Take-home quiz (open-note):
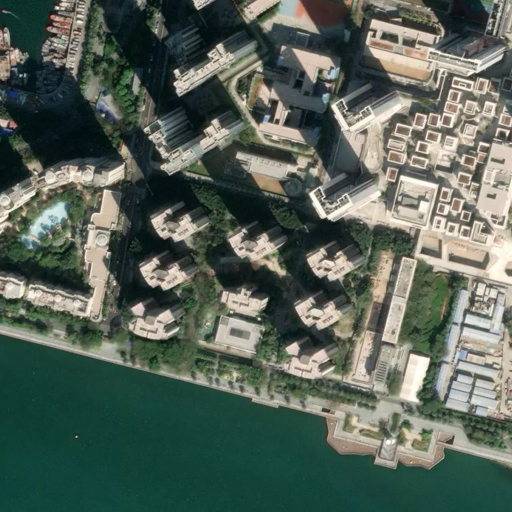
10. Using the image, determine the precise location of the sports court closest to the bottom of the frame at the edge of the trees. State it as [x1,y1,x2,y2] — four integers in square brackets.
[244,171,286,192]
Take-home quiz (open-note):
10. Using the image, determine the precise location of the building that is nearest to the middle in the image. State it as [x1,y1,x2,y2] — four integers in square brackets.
[228,221,286,261]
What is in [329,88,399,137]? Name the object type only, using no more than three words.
building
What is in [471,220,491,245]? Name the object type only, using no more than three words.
house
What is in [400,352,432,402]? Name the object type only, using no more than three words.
building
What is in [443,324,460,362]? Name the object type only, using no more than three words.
shed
